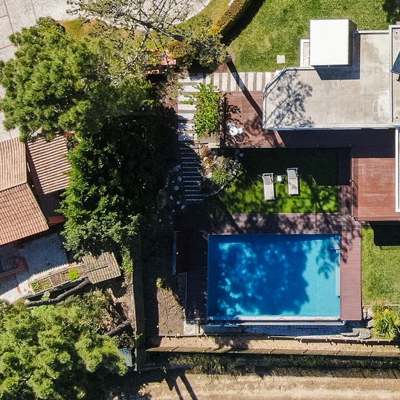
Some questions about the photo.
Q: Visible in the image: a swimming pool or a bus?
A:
swimming pool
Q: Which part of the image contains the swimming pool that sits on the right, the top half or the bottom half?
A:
bottom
